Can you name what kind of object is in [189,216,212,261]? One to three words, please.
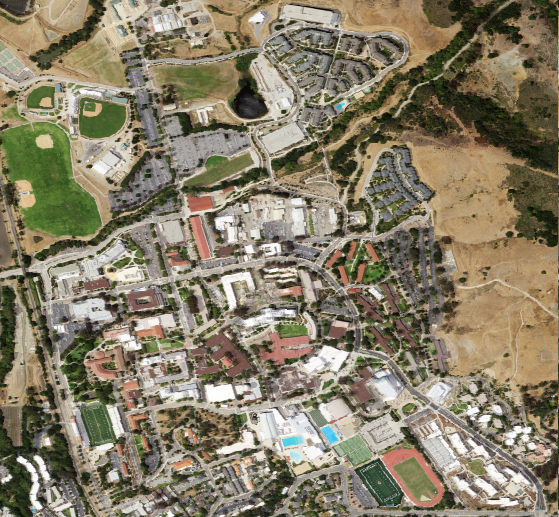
barn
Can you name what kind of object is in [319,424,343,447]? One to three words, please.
swimming pool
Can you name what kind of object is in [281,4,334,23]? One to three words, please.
building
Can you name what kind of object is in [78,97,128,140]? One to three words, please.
baseball field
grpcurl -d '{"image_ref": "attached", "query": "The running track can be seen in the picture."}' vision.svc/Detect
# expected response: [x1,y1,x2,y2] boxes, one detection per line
[380,447,443,507]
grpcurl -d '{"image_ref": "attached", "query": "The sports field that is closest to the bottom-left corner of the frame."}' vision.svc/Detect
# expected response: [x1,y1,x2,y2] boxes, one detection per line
[80,404,116,445]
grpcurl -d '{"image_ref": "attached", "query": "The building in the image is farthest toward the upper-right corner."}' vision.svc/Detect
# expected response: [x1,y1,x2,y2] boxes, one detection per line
[367,35,403,67]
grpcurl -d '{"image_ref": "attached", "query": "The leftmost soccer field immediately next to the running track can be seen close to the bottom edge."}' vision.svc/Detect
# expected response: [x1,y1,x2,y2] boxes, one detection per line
[355,458,403,506]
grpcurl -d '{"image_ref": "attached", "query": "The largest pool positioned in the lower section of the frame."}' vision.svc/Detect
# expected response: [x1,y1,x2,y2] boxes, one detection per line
[279,434,320,466]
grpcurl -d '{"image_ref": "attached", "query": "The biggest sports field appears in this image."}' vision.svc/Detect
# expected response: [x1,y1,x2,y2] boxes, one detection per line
[1,123,100,235]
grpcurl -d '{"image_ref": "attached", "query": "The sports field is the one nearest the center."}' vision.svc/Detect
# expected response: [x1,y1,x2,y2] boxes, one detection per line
[182,151,260,189]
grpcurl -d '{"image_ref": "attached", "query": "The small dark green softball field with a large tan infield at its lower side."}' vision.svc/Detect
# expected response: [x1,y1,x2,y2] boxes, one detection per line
[25,84,57,110]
